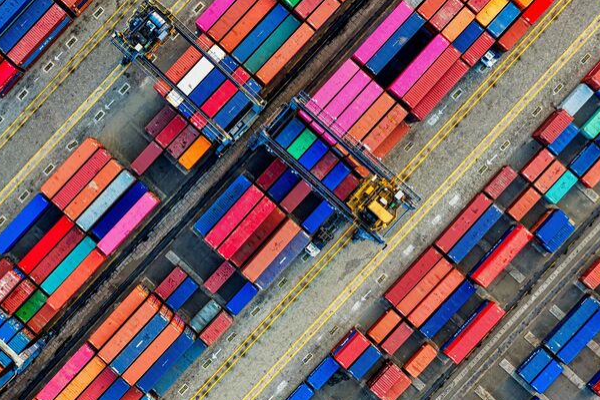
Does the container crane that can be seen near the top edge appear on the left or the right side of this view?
left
